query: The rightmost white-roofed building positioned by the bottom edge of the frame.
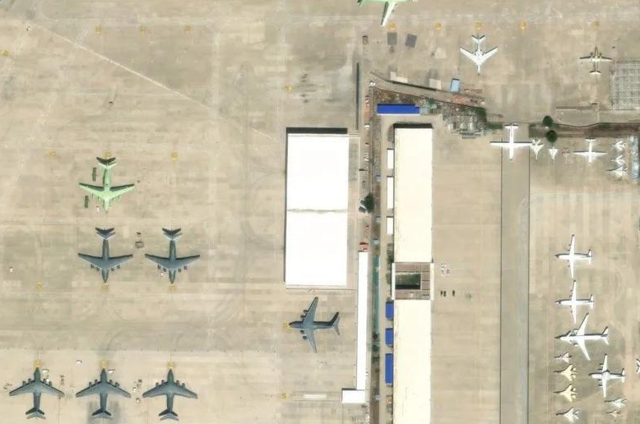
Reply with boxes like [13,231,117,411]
[393,301,431,424]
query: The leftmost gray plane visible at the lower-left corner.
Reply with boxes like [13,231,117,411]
[9,368,64,420]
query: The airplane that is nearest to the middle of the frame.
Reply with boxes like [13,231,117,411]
[289,296,339,352]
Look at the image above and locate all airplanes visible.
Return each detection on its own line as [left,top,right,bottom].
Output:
[558,314,612,361]
[556,236,593,278]
[145,233,200,284]
[614,142,628,150]
[574,139,607,164]
[77,233,133,283]
[460,36,498,75]
[608,411,621,418]
[491,125,533,160]
[78,161,133,212]
[143,369,198,421]
[606,394,627,411]
[557,354,572,363]
[579,46,613,72]
[590,355,626,397]
[558,408,579,424]
[556,385,577,401]
[612,156,627,164]
[557,364,576,381]
[548,146,559,160]
[289,296,339,352]
[375,0,407,26]
[607,164,628,180]
[76,368,131,420]
[557,281,594,324]
[529,137,545,158]
[9,368,64,420]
